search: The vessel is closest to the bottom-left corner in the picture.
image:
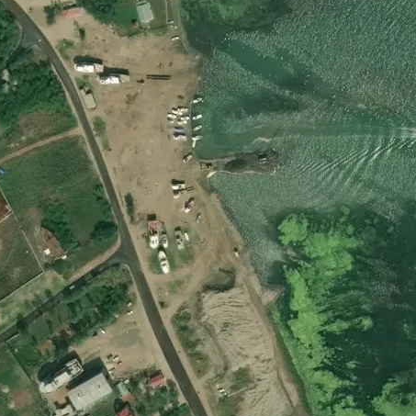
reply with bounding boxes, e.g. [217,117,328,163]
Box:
[40,360,83,391]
